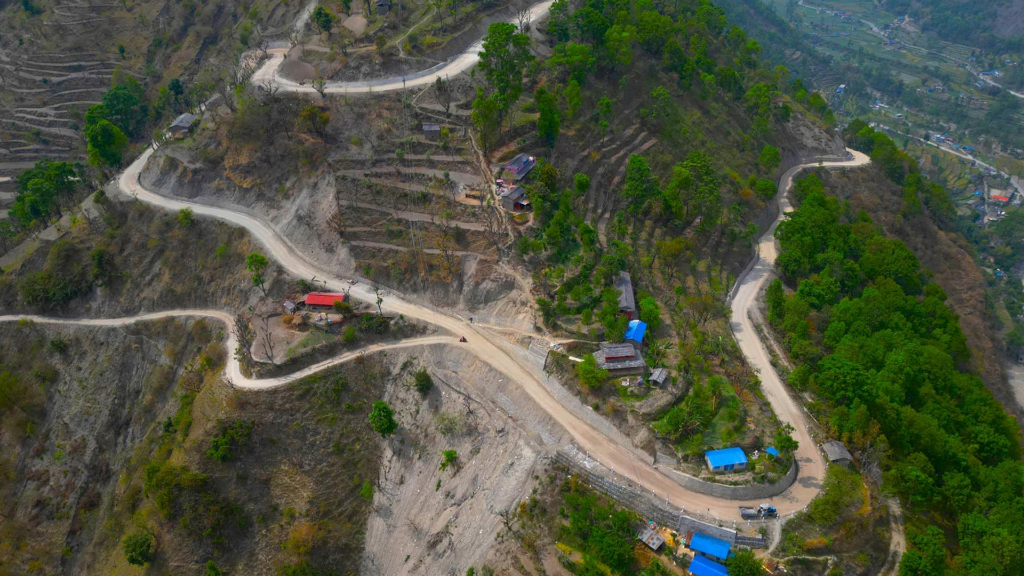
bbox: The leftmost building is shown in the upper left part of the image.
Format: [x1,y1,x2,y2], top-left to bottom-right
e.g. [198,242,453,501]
[169,119,198,137]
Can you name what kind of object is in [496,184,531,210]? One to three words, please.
house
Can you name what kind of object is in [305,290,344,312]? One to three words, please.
house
